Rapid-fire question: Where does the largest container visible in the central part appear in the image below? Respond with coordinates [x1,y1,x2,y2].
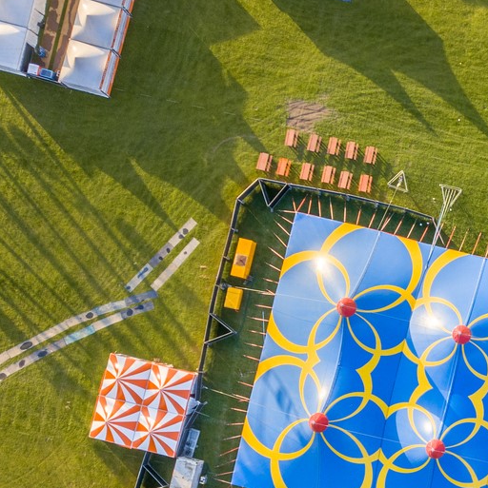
[231,238,257,279]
